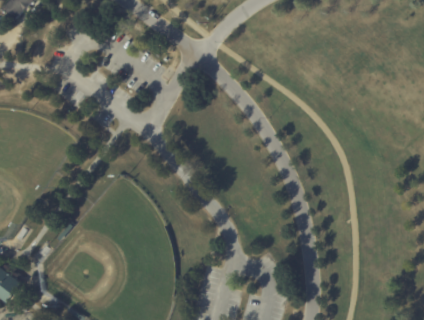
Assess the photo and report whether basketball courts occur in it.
No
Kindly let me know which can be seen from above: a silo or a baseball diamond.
baseball diamond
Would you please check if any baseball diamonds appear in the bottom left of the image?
Yes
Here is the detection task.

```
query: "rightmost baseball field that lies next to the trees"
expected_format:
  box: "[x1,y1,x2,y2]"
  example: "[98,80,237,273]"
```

[48,176,176,320]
